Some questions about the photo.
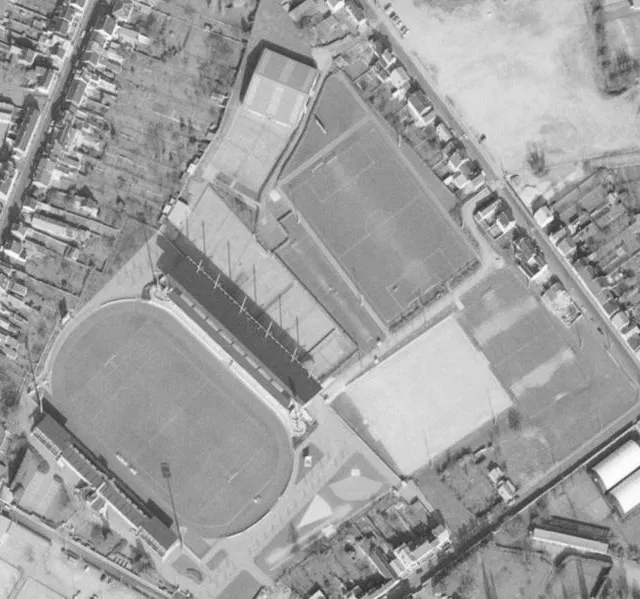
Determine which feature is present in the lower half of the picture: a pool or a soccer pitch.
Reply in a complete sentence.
The feature located in the lower half of the picture is a soccer pitch.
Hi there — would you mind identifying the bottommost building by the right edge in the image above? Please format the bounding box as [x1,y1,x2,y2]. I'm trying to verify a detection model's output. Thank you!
[531,521,610,554]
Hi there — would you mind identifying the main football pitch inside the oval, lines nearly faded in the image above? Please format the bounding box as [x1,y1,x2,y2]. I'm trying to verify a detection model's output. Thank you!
[72,321,271,518]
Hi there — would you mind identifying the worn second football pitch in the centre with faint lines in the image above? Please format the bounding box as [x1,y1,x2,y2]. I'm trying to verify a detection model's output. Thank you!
[288,126,474,326]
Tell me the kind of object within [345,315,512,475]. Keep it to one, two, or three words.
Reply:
sports field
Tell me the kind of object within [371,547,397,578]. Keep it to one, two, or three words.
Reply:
house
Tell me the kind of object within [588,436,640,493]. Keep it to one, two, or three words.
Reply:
shed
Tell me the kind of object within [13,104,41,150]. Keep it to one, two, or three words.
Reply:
house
